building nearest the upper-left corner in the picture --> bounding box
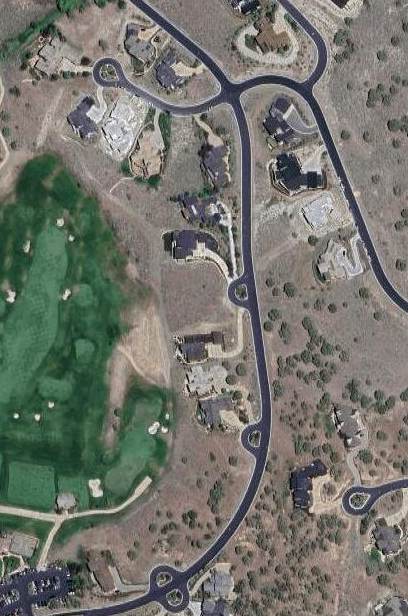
[28,30,86,79]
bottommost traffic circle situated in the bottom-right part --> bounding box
[345,484,382,515]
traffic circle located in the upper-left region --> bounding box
[94,58,125,87]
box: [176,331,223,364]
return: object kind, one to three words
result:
house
